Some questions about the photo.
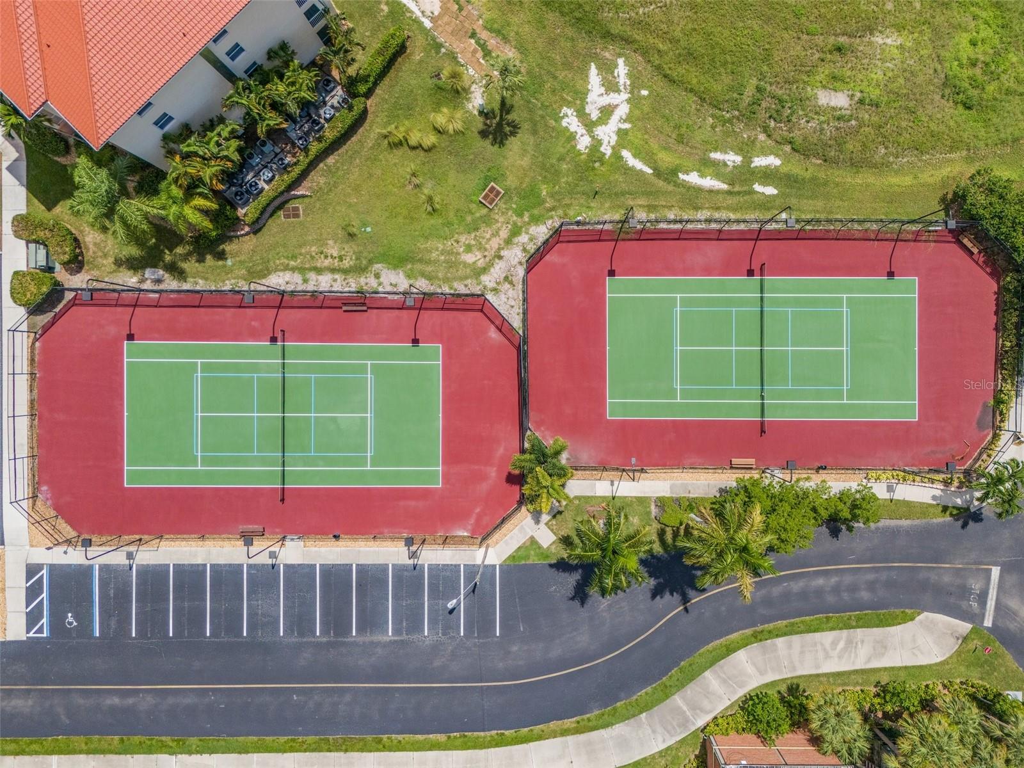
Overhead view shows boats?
No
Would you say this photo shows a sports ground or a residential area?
sports ground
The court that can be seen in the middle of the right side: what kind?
tennis court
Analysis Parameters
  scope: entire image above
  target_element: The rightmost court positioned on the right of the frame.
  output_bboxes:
[527,230,998,467]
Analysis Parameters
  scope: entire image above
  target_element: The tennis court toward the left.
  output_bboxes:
[36,294,520,536]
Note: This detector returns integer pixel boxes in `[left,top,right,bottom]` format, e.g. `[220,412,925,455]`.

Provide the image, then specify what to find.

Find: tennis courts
[527,230,998,467]
[36,294,520,536]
